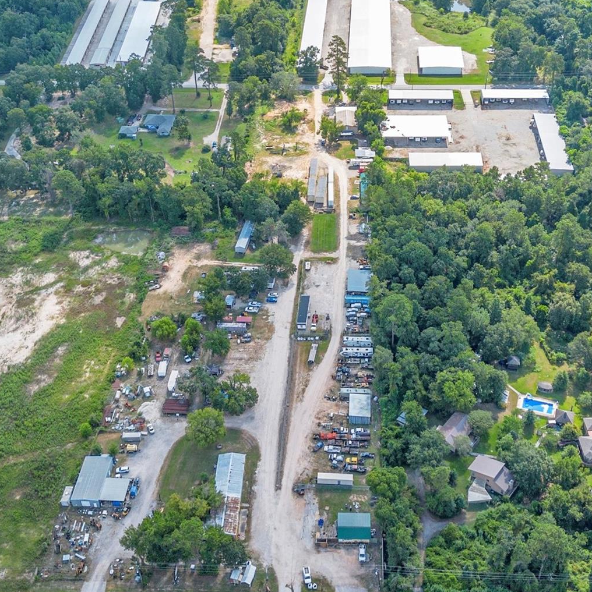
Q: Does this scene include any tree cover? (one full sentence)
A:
Yes, there's tree cover in this view.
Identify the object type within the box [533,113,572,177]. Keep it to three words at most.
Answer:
shed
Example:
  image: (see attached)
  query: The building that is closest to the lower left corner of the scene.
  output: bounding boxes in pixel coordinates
[70,453,132,507]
